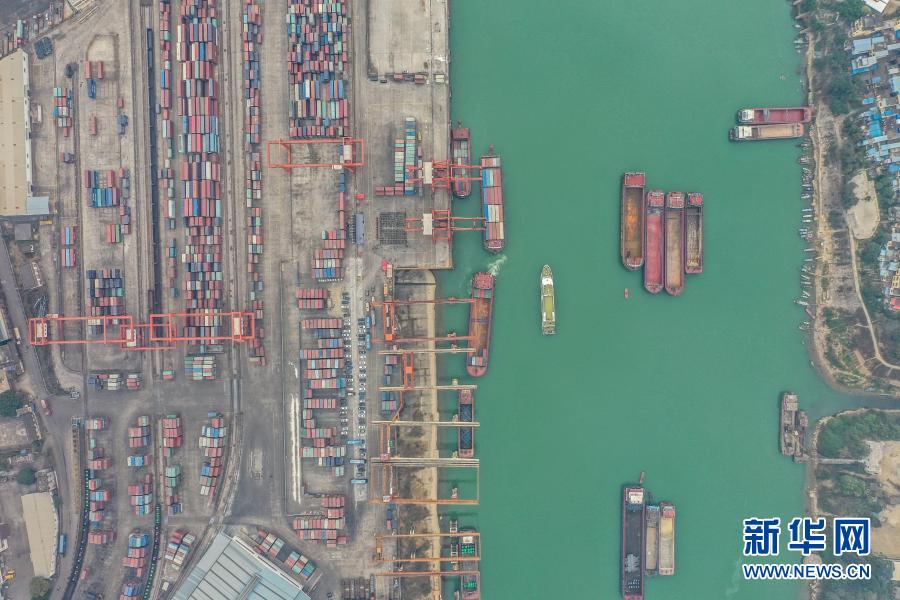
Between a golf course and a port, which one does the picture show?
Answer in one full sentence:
This looks like a port.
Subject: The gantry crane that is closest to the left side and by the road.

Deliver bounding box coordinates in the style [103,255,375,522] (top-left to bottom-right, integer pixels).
[29,312,135,344]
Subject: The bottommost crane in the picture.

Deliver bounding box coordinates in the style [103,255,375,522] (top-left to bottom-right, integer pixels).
[375,562,481,600]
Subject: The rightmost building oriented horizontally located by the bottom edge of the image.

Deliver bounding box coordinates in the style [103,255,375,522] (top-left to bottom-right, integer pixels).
[171,529,333,600]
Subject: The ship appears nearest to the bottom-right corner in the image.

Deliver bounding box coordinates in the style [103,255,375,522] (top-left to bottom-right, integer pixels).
[780,392,799,456]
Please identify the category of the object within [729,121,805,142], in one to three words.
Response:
ship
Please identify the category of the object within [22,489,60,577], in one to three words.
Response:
building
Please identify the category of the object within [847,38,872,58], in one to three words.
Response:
house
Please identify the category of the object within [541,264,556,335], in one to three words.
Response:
ship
